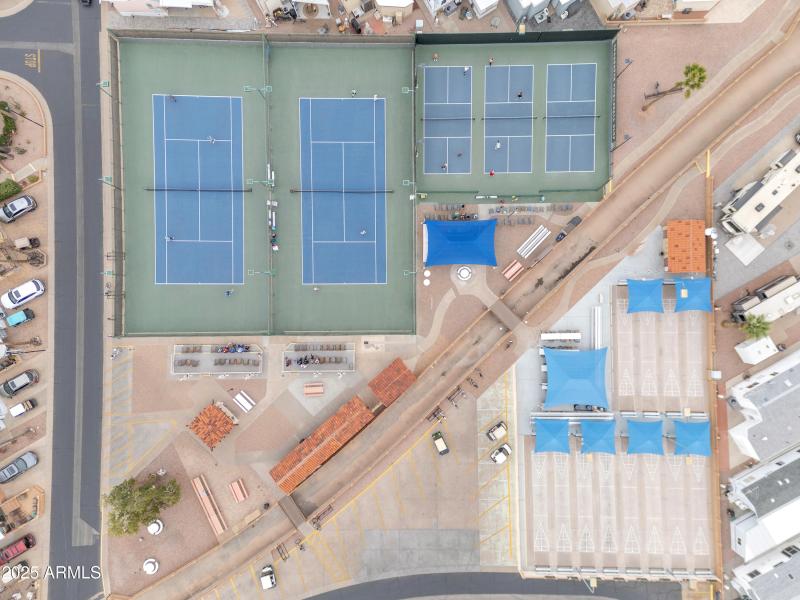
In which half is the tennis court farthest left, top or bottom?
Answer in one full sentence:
The top half of the photo is where the tennis court farthest left is.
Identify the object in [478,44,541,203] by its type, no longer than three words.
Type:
sports court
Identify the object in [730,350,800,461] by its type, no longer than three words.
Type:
house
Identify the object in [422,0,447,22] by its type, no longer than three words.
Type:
vehicle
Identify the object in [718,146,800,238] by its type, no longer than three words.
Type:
camper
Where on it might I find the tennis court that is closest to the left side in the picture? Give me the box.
[123,41,271,334]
